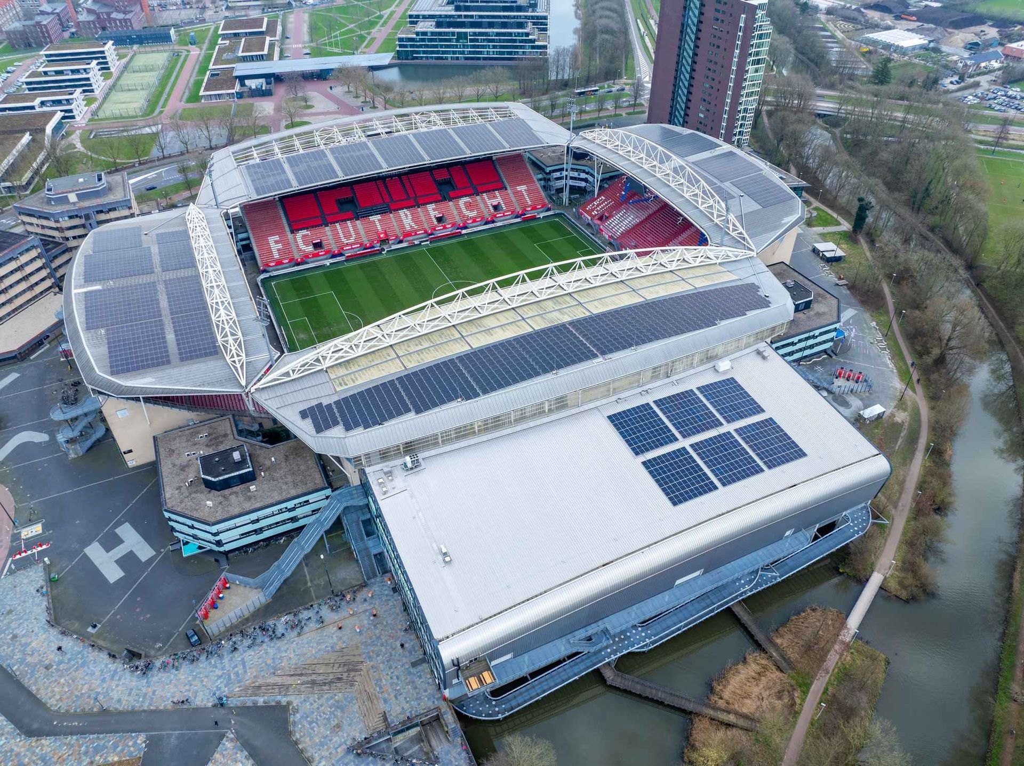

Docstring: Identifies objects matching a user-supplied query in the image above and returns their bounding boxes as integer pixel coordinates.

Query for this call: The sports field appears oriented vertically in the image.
[976,144,1024,279]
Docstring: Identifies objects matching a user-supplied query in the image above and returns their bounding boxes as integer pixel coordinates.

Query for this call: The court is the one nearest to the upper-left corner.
[98,51,172,117]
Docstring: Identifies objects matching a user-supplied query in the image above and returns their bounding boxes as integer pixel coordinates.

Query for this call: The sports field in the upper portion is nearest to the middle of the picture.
[272,219,602,342]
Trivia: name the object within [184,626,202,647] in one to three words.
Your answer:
car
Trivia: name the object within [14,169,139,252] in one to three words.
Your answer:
building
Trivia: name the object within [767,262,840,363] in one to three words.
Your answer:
building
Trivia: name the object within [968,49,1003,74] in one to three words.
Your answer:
house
